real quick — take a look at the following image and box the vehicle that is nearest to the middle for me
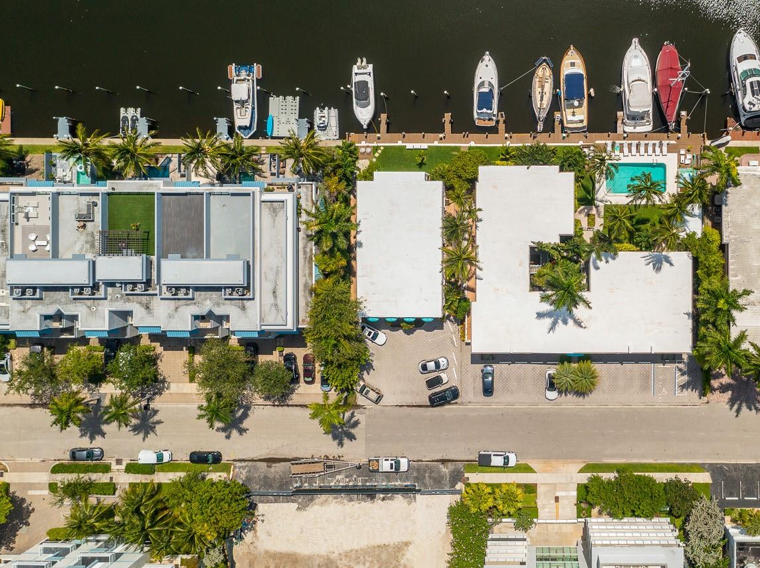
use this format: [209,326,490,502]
[358,321,390,347]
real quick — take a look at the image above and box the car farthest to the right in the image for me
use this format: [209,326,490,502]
[544,368,559,400]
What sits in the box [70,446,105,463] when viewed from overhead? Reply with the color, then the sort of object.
gray car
